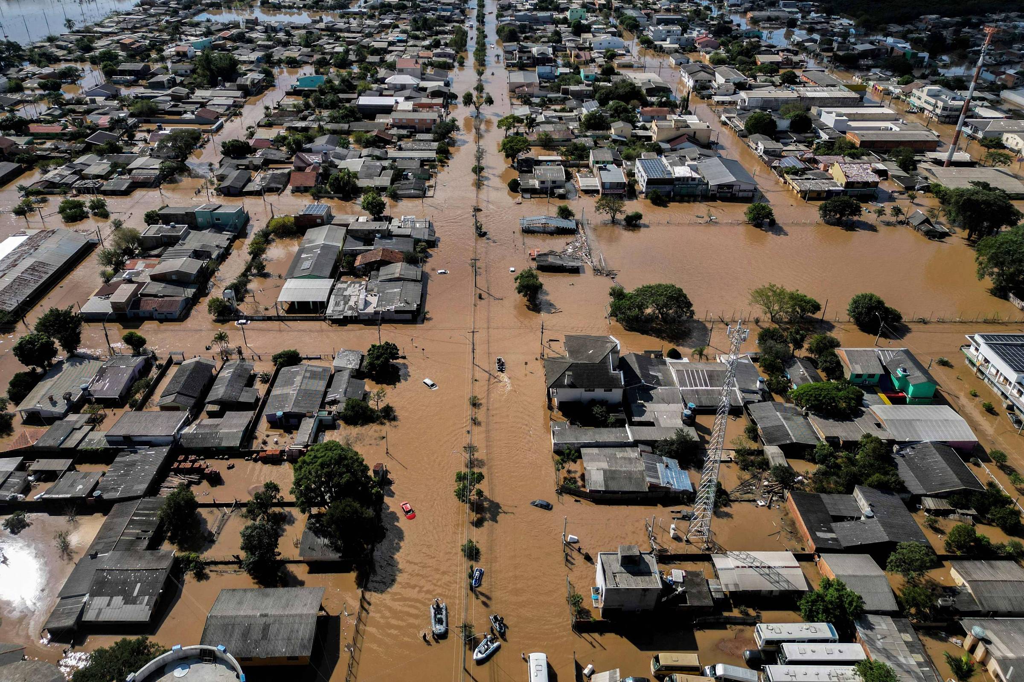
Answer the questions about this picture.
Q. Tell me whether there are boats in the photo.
Yes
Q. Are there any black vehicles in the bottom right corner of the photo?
Yes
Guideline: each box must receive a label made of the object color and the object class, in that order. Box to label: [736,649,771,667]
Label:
black car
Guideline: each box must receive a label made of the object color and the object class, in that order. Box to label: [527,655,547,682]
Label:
white bus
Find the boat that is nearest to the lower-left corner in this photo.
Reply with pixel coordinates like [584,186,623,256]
[428,597,448,635]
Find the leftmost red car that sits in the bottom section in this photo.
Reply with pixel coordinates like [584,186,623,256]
[400,502,416,522]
